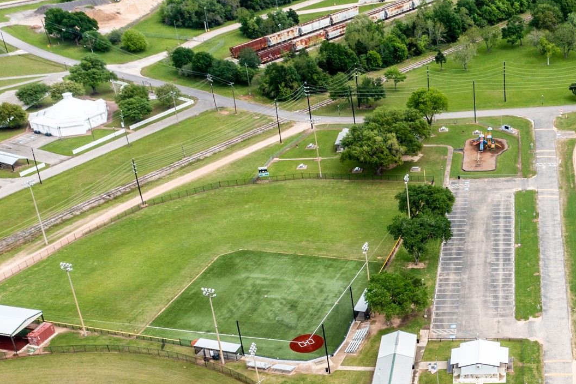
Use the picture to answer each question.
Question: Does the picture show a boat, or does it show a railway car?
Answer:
railway car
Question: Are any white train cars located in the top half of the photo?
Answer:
Yes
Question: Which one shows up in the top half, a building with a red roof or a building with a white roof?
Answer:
building with a white roof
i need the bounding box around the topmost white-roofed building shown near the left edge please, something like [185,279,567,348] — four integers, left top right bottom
[24,91,113,141]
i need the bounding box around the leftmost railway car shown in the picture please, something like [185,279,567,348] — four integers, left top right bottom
[228,32,267,57]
